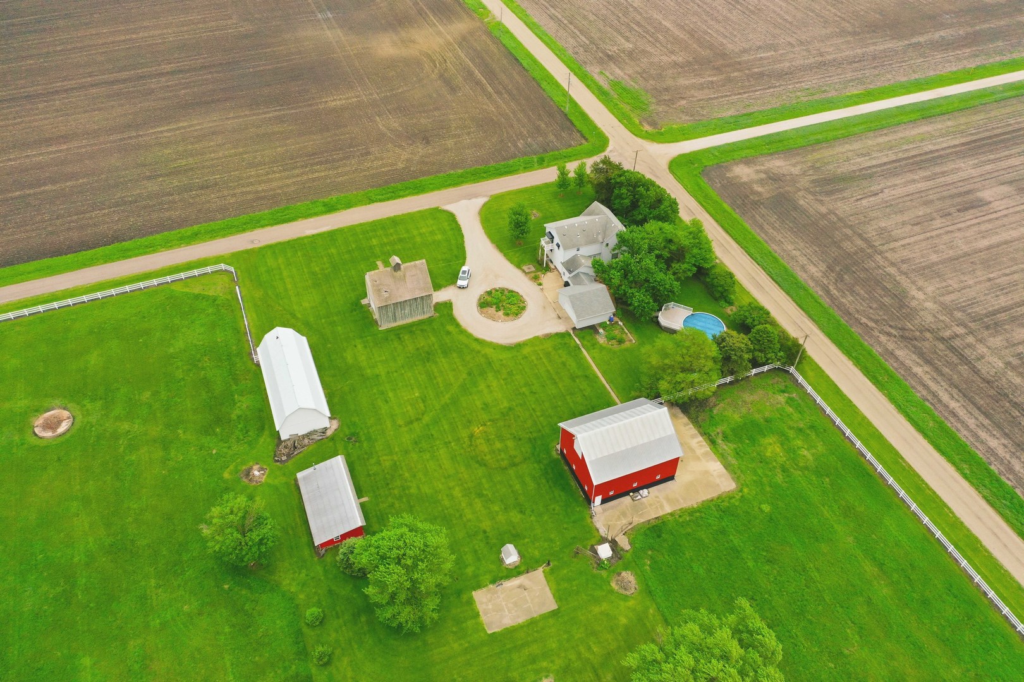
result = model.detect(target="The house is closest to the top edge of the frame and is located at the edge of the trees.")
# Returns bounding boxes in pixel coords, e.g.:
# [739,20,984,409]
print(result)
[539,201,632,288]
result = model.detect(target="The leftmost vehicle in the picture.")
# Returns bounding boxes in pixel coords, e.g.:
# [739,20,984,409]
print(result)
[458,265,471,286]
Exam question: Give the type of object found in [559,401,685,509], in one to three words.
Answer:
barn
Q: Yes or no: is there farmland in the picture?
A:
Yes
